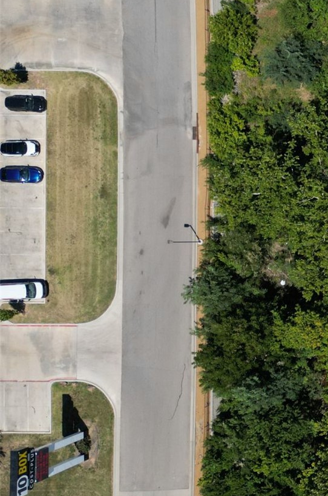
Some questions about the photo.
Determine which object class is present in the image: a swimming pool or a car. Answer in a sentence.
The image shows a car.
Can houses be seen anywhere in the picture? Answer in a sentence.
No, the photo shows no house.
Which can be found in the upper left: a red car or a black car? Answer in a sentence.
It is a black car that can be seen in the upper left.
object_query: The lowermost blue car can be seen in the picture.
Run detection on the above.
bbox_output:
[3,166,48,184]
